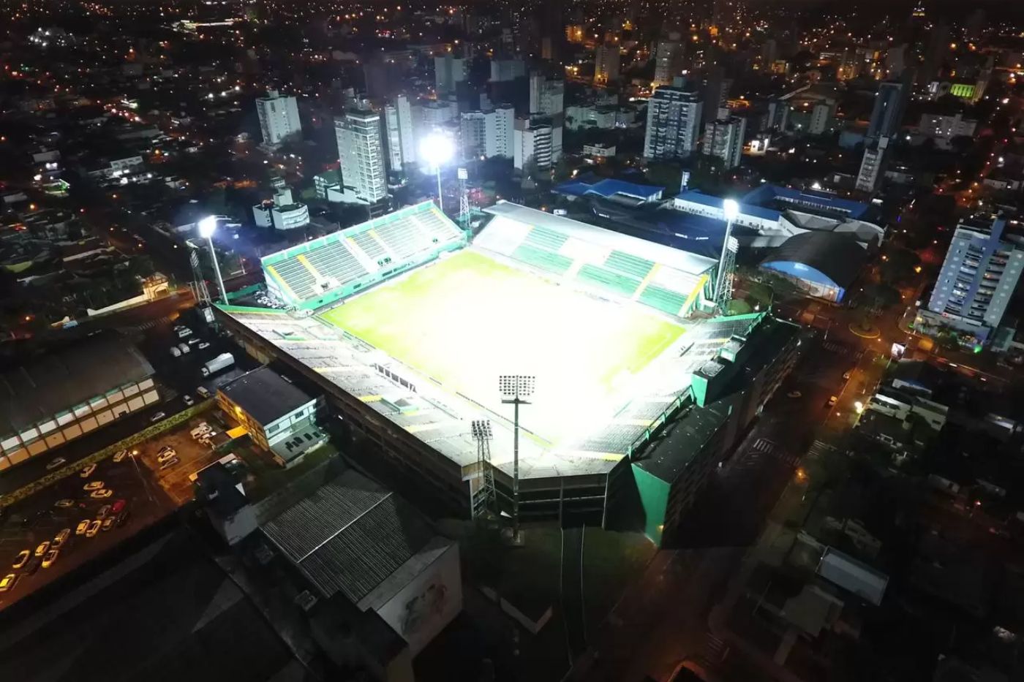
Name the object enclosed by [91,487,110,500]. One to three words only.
vehicle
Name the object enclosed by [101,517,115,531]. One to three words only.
car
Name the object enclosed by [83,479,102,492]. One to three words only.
vehicle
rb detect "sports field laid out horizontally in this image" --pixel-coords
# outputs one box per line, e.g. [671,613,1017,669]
[320,249,690,442]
